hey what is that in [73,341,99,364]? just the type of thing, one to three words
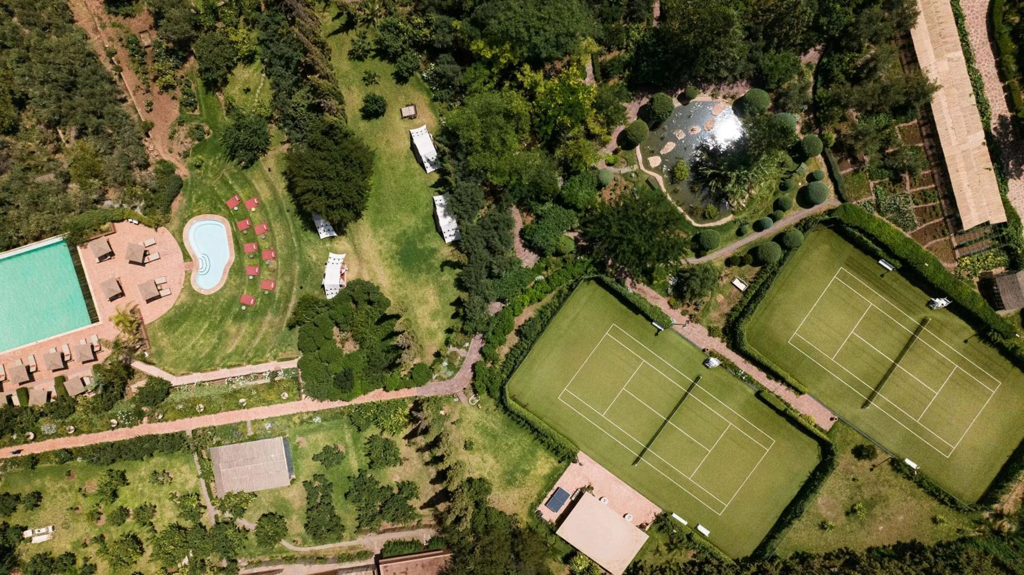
umbrella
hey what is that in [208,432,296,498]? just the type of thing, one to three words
shed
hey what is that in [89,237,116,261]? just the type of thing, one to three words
umbrella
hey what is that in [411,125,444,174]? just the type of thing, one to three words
tent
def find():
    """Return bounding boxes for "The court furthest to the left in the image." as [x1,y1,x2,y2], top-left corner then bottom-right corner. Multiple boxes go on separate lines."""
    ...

[505,278,821,561]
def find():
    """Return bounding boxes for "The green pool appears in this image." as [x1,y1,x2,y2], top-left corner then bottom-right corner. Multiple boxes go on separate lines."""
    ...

[0,232,103,354]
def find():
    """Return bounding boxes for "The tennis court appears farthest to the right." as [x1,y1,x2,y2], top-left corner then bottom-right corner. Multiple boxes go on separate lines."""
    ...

[740,222,1024,503]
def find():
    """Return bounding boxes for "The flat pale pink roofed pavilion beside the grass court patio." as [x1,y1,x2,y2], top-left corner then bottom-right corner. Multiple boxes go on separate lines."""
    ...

[556,487,648,575]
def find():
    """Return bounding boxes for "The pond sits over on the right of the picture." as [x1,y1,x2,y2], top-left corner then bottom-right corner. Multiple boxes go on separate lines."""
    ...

[633,94,759,228]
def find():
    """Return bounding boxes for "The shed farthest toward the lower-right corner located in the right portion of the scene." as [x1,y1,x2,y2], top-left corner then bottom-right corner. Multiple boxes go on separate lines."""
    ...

[983,270,1024,311]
